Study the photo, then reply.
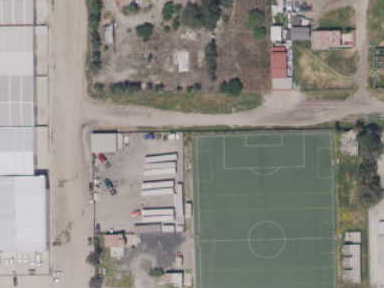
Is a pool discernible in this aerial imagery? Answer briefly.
No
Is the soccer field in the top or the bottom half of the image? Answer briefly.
bottom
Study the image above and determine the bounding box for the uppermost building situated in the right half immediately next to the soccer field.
[342,129,358,156]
